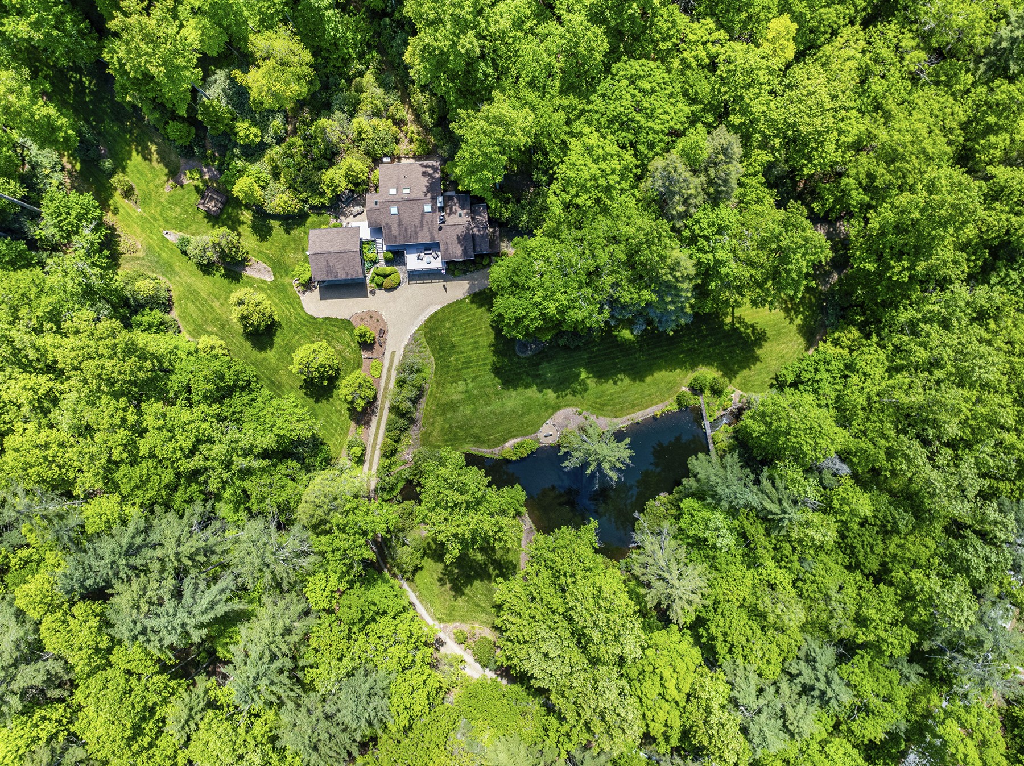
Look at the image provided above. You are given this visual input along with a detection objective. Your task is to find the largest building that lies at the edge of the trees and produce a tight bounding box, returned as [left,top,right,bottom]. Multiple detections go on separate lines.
[343,161,500,271]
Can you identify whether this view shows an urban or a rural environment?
rural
